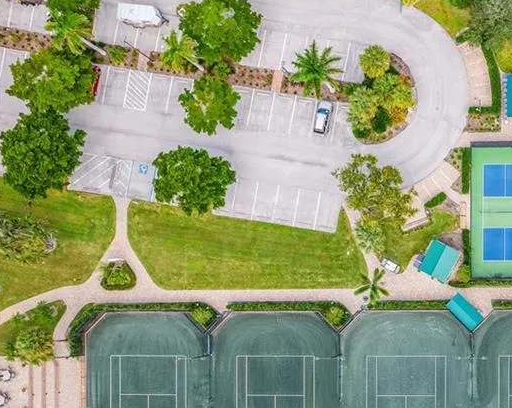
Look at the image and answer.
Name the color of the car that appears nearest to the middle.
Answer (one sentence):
The car that appears nearest to the middle looks white in the image.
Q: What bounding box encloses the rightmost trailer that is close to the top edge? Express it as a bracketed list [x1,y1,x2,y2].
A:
[116,2,170,28]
